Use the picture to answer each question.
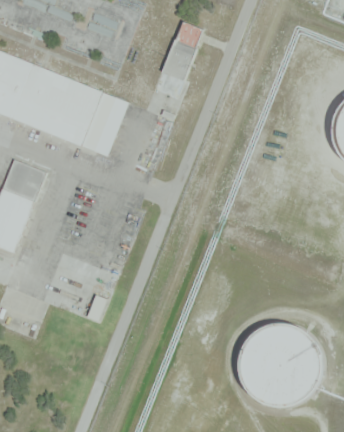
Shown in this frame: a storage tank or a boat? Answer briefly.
storage tank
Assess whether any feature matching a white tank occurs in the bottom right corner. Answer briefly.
Yes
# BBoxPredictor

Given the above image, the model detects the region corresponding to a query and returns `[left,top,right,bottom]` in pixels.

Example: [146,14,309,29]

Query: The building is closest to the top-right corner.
[162,22,203,80]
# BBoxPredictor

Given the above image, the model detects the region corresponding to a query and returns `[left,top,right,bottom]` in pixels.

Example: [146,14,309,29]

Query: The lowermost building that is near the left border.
[0,160,48,253]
